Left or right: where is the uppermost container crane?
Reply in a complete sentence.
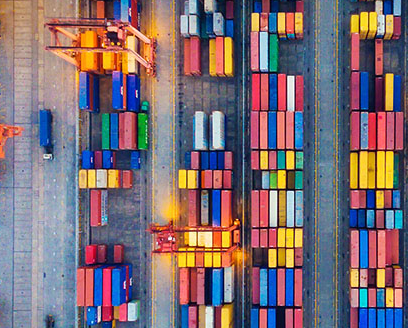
You can find the uppermost container crane on the left side of the picture.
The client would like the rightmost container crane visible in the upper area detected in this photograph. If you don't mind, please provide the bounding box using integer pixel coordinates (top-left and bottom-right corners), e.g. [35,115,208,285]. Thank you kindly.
[43,19,153,73]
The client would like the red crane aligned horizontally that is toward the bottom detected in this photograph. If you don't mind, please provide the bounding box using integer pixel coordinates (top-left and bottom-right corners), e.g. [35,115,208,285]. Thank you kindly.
[149,217,240,258]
